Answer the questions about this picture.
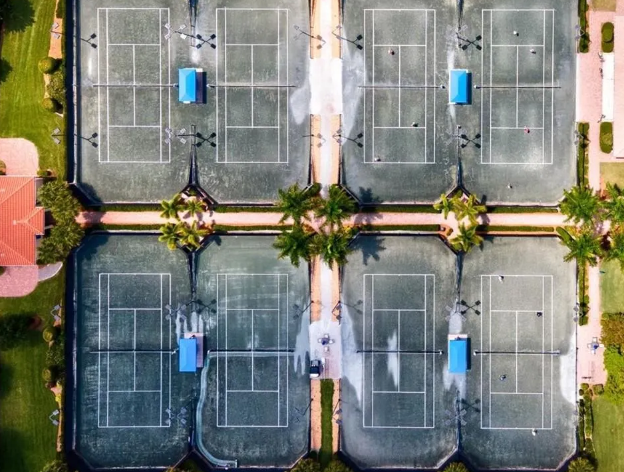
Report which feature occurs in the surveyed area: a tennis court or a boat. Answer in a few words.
tennis court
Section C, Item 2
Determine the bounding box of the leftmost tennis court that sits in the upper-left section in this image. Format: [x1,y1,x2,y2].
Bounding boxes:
[76,0,192,203]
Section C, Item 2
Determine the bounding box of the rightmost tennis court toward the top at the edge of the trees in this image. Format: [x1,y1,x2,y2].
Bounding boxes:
[460,0,577,204]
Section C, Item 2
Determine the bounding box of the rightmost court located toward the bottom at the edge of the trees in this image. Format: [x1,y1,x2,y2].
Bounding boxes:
[460,237,577,466]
